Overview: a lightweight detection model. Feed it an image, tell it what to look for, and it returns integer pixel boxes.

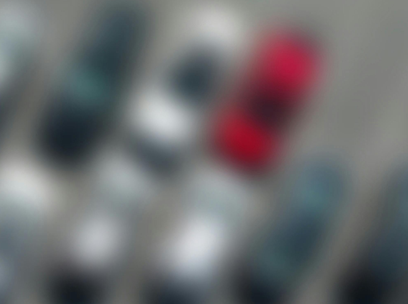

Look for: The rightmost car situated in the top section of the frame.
[214,38,319,176]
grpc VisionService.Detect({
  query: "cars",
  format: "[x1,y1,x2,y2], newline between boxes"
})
[0,169,54,304]
[0,25,40,134]
[139,173,251,304]
[33,13,154,169]
[134,15,247,167]
[214,38,319,176]
[38,162,153,304]
[231,162,352,304]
